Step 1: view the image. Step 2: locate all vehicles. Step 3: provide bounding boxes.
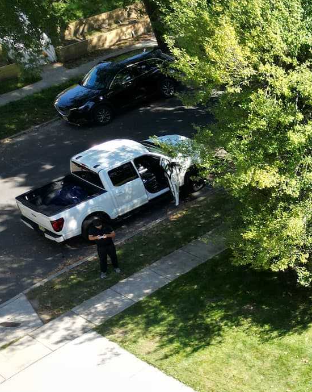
[4,132,213,243]
[52,44,183,123]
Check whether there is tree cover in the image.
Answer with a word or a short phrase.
Yes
